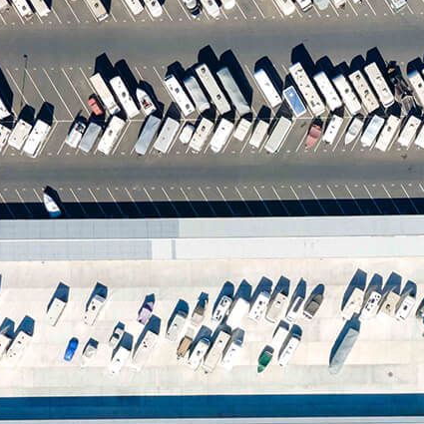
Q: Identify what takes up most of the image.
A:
paved ground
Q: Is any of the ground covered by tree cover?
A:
No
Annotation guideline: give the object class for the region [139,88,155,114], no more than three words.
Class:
boat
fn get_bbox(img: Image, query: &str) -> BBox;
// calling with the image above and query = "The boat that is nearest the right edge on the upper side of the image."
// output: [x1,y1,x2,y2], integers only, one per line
[347,116,363,144]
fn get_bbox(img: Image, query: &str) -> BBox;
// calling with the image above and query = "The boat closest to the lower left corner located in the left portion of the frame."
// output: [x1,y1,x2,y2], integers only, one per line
[110,327,123,346]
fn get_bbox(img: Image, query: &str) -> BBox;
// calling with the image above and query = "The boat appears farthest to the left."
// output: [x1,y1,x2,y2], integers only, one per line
[44,196,59,217]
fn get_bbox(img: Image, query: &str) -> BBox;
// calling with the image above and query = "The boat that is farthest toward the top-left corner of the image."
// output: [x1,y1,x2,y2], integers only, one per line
[67,120,82,148]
